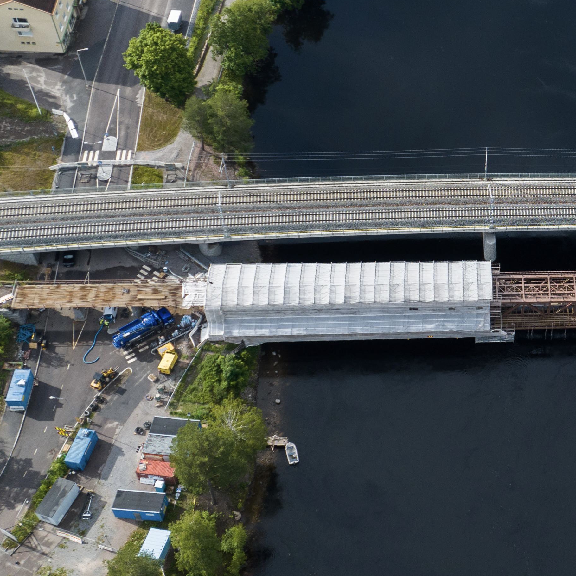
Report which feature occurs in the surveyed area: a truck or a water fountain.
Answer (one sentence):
Looking from above, you can make out a truck.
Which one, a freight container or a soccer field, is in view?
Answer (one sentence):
Of the two, only a freight container appears.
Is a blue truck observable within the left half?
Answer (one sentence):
Yes, there is a blue truck within the left half.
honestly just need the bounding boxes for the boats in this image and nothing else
[286,441,299,466]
